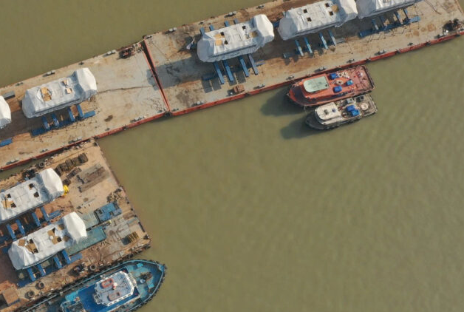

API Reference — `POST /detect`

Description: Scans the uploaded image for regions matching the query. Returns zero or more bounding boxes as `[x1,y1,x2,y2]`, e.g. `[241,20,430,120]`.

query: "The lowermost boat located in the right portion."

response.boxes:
[304,95,377,131]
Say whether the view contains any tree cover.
No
